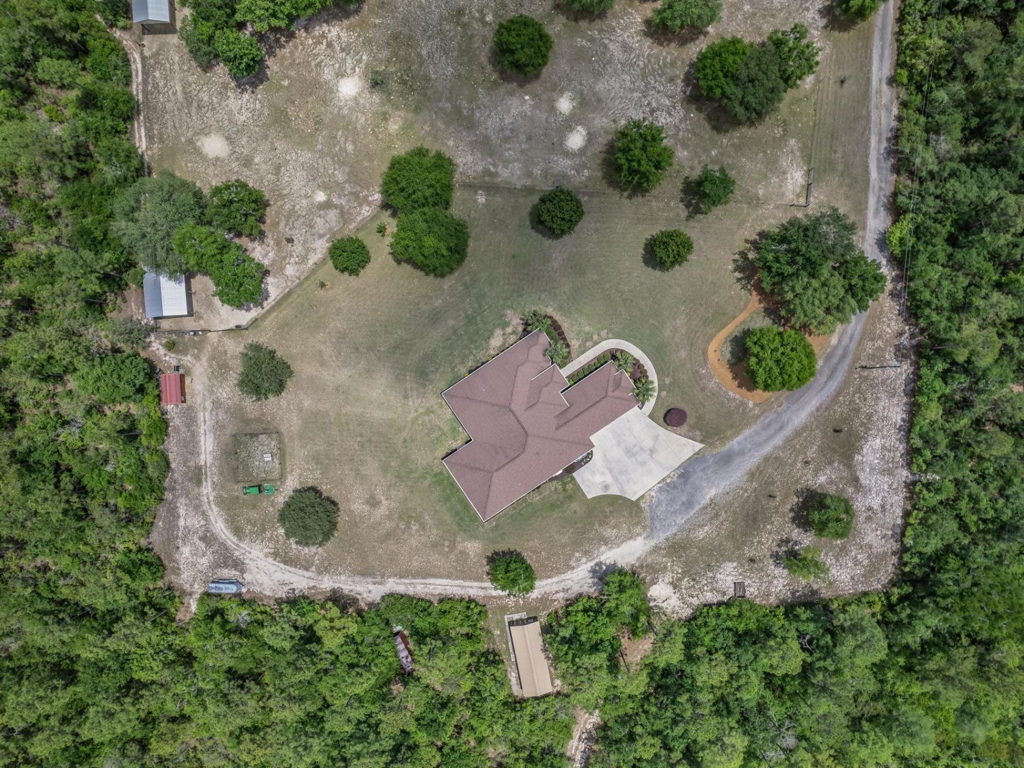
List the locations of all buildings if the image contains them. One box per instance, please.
[440,327,642,523]
[142,263,194,318]
[132,0,179,33]
[163,374,189,404]
[510,610,552,696]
